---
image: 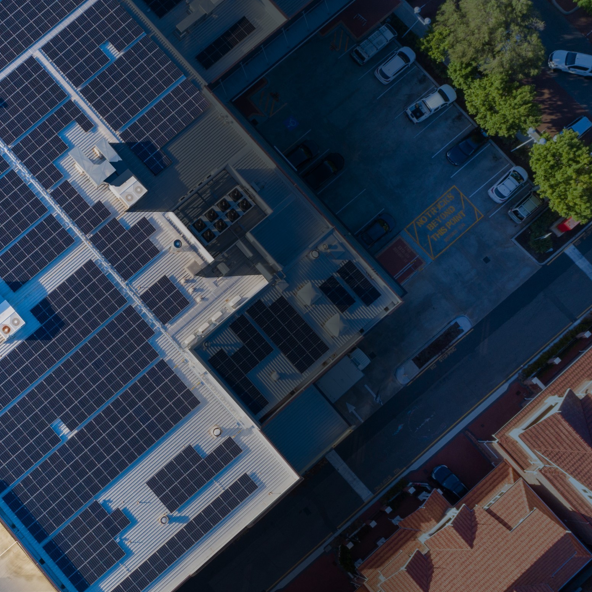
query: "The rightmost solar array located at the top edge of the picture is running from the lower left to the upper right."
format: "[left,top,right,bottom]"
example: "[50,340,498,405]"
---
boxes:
[195,17,256,71]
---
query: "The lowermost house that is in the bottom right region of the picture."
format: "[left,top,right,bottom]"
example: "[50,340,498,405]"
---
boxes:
[352,459,592,592]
